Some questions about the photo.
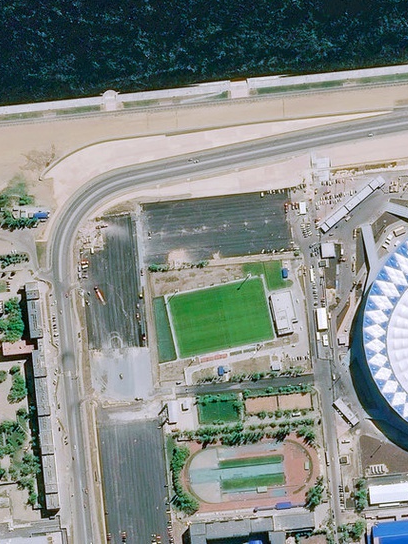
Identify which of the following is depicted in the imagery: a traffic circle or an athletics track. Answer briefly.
athletics track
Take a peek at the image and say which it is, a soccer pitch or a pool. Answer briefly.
soccer pitch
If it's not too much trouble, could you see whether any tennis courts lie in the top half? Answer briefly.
No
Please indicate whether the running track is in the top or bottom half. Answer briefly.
bottom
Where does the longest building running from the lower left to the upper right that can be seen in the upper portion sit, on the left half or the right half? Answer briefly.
right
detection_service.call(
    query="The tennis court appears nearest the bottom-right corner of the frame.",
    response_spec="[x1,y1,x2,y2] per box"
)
[279,392,312,411]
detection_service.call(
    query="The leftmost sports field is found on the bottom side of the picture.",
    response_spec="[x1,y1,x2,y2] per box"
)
[152,296,177,363]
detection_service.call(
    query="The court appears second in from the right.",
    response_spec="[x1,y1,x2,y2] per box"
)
[245,396,278,415]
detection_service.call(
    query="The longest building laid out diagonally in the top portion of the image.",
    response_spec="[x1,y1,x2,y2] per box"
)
[321,177,384,230]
